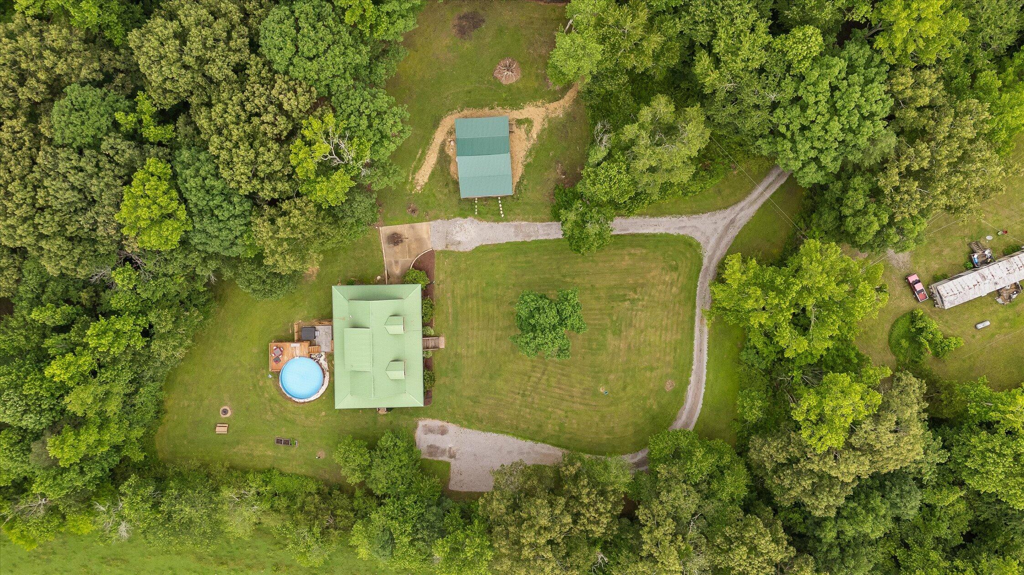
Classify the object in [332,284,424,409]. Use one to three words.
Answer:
house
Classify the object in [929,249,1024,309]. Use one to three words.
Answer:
house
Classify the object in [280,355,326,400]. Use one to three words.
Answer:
swimming pool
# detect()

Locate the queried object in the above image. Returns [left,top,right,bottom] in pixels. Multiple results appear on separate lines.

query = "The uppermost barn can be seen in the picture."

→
[456,116,513,199]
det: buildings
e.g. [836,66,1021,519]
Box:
[929,249,1024,309]
[456,116,513,199]
[332,284,424,409]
